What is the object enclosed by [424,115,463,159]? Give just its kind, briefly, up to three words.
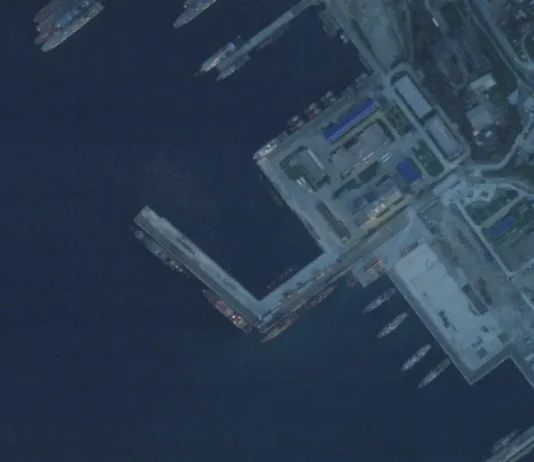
building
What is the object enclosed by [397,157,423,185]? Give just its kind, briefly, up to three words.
building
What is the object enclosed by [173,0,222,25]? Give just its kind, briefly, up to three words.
ship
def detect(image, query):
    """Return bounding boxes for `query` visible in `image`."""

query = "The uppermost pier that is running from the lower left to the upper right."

[216,0,319,72]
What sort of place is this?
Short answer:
port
